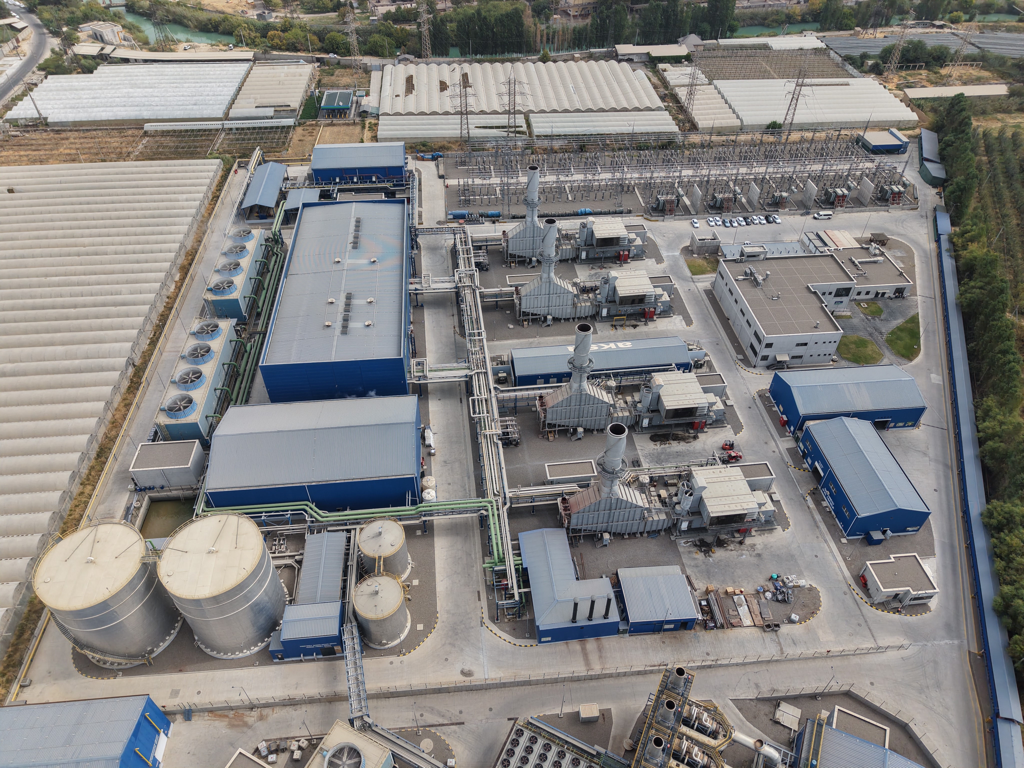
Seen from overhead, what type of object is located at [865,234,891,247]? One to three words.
gazebo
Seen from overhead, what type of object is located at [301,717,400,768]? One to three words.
cooling tower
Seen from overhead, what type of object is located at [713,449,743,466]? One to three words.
work vehicle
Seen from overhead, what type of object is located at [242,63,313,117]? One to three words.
greenhouse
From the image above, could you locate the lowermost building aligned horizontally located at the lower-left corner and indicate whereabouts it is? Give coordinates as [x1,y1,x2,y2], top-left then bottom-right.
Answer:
[0,694,174,768]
